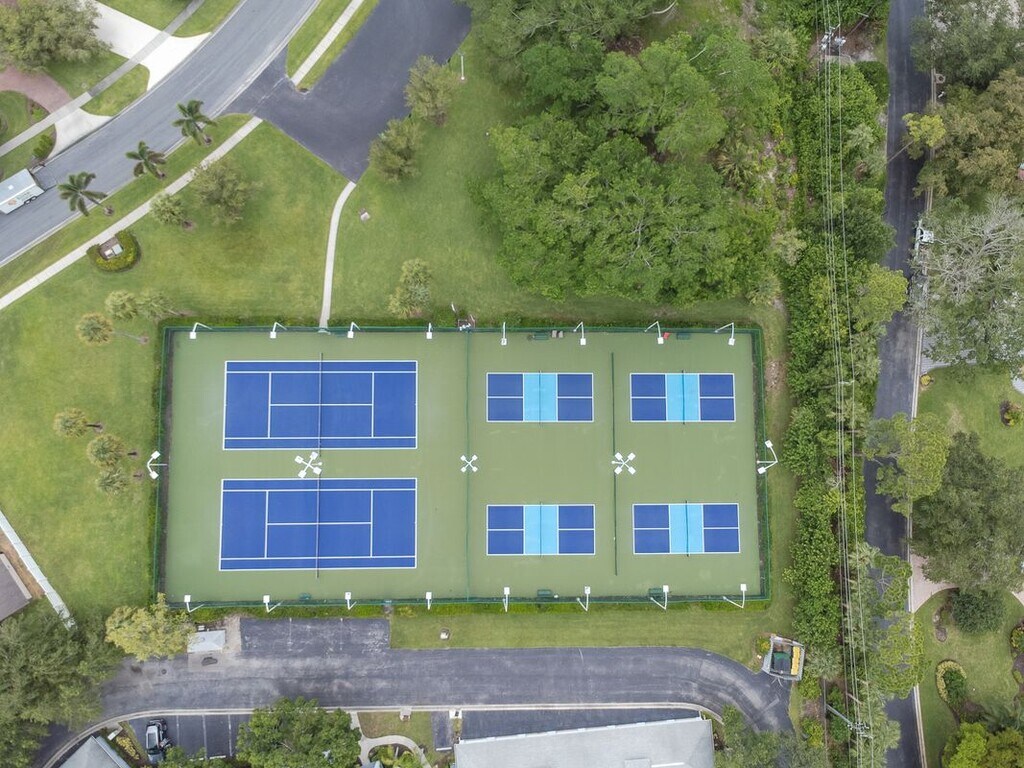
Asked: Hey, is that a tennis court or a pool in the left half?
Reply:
tennis court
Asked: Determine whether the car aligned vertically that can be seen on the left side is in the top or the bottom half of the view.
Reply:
bottom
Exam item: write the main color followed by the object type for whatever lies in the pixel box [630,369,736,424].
blue sports court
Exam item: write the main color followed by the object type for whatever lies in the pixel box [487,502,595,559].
blue sports court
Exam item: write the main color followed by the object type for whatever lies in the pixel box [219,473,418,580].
blue tennis court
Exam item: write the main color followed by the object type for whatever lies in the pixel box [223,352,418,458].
blue tennis court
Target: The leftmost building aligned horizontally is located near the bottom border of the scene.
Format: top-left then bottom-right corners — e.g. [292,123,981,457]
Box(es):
[58,729,145,768]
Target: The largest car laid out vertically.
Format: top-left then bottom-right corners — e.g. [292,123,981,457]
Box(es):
[146,717,168,760]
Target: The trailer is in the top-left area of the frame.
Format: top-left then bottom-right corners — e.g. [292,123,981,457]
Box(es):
[0,169,49,213]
